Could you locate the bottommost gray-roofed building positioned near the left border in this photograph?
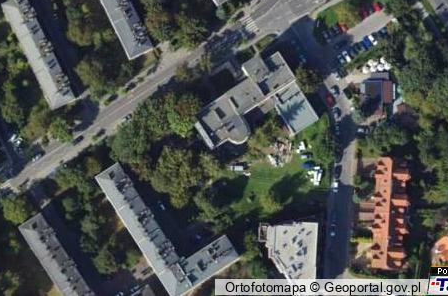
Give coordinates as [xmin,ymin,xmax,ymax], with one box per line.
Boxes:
[19,214,90,296]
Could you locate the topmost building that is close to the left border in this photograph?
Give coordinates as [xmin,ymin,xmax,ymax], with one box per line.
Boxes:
[1,0,75,111]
